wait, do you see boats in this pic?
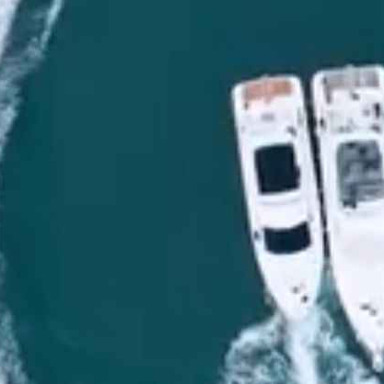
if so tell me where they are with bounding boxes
[313,65,384,370]
[234,75,323,325]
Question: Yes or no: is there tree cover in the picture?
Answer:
No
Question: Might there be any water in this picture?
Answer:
Yes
